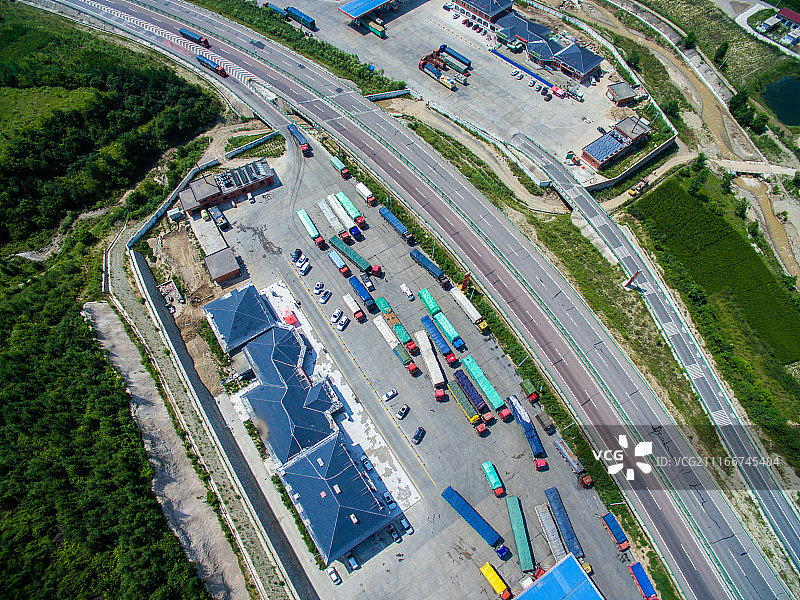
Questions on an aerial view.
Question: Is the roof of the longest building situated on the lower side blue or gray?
blue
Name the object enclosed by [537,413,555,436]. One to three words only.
vehicle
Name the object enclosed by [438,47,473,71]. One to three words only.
truck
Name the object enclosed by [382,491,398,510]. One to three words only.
car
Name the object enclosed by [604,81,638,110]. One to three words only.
building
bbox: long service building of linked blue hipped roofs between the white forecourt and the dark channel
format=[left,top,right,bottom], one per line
[202,284,391,565]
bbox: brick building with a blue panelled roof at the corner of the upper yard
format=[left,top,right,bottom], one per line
[580,115,651,172]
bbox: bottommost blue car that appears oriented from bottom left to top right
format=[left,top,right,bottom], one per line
[412,427,426,445]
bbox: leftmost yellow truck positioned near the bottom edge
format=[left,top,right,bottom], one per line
[478,562,512,600]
